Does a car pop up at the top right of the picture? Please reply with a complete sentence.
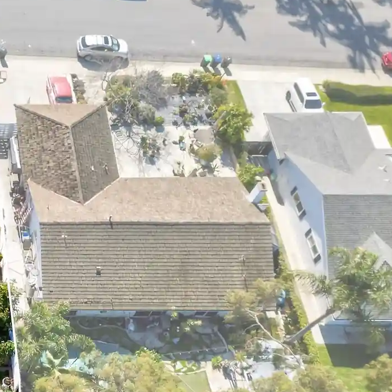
Yes, a car can be seen at the top right of the picture.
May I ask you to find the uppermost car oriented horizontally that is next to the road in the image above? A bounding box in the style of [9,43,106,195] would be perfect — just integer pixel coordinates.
[76,35,132,64]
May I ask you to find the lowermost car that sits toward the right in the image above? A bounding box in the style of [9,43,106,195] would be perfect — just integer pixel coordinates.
[291,65,333,112]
